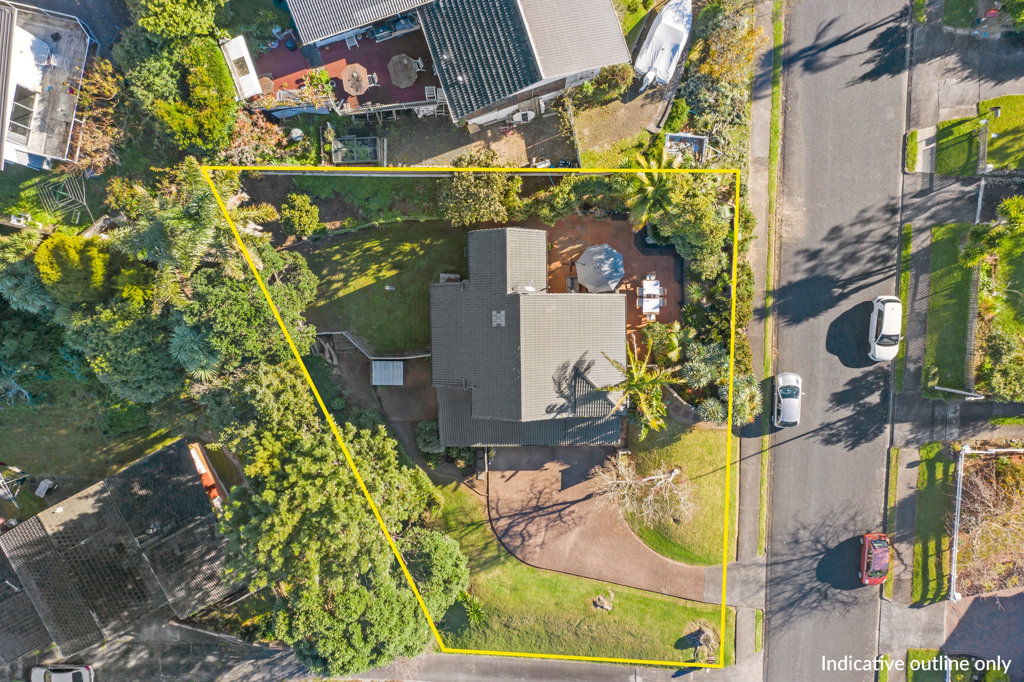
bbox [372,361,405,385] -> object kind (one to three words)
shed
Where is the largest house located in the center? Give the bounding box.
[429,226,629,448]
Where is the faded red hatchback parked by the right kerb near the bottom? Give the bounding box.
[855,534,889,589]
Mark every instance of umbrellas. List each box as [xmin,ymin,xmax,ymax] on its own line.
[563,244,625,293]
